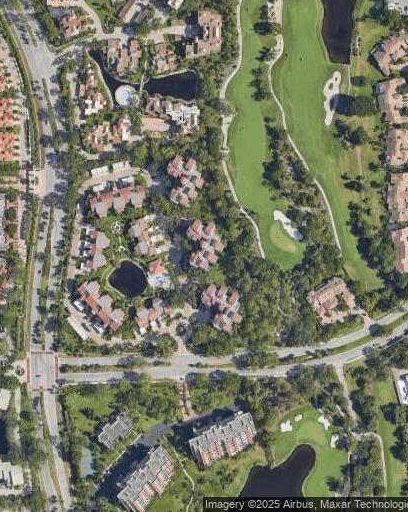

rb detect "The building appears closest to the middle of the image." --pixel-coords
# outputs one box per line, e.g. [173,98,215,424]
[184,217,225,274]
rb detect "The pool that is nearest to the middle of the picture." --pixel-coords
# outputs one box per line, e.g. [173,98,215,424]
[147,275,171,289]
